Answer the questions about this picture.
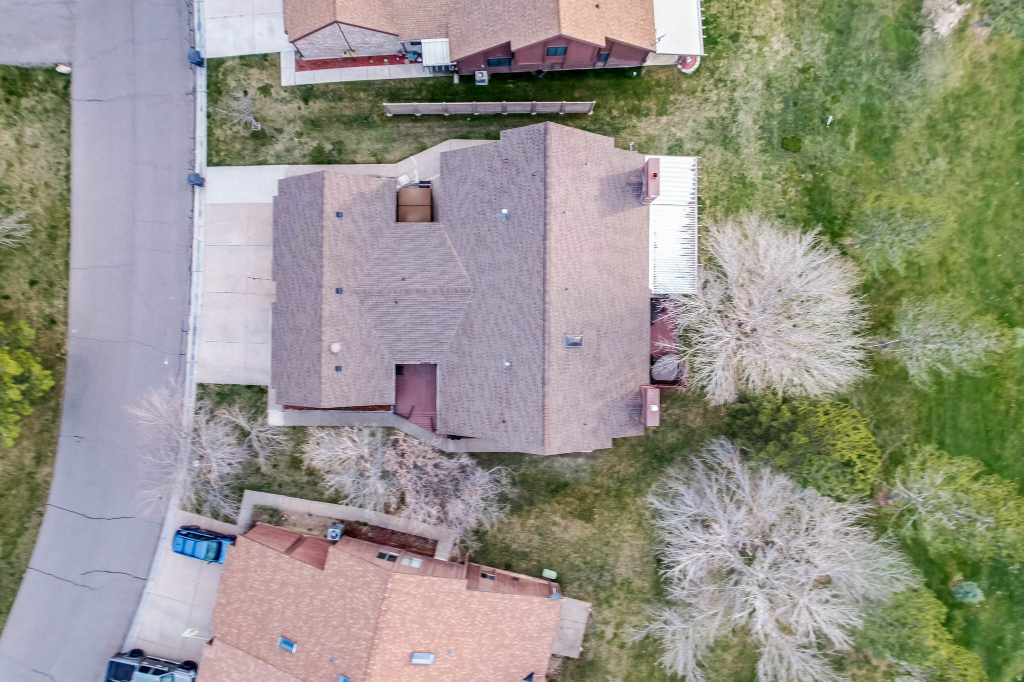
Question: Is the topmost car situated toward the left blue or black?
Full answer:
The color of the topmost car situated toward the left is blue.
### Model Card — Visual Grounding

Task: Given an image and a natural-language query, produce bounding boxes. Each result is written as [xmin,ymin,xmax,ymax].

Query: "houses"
[270,121,660,455]
[283,0,656,75]
[196,522,564,682]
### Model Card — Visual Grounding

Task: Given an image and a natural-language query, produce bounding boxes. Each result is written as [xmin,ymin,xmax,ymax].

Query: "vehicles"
[105,651,197,682]
[168,527,236,570]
